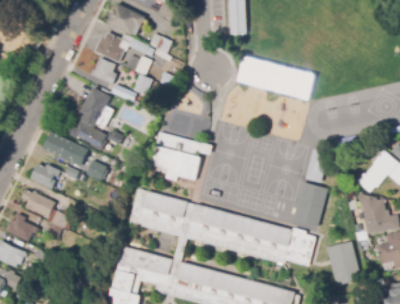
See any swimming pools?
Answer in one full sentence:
Yes, the picture does show a swimming pool.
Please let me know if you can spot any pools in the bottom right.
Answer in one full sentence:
No, I can find no pool in the bottom right.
